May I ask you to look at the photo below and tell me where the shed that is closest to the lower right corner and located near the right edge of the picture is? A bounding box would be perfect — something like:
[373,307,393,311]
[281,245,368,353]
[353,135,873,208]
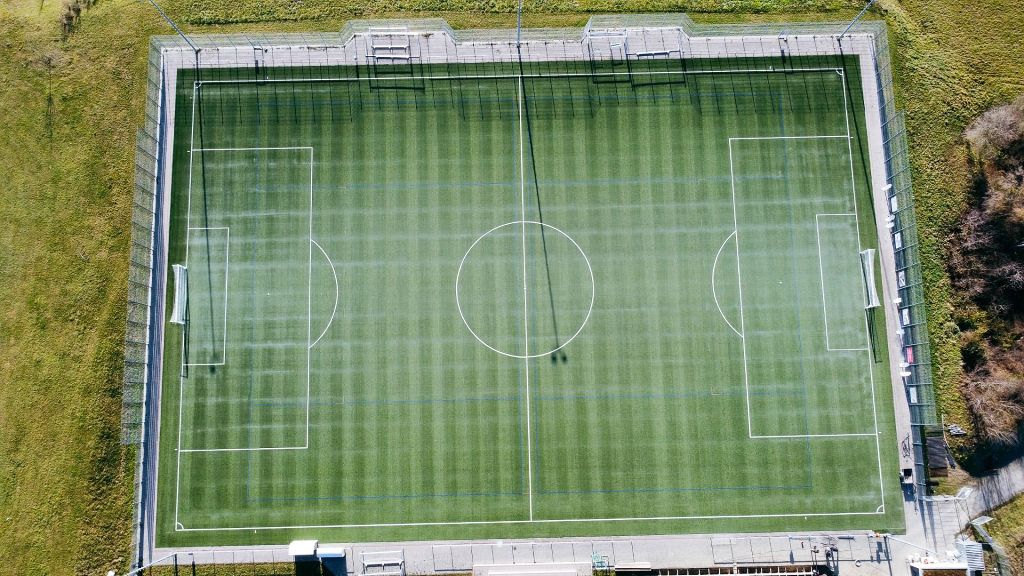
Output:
[956,541,987,573]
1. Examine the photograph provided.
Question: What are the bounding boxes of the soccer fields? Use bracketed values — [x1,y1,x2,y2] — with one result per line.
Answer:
[155,55,905,548]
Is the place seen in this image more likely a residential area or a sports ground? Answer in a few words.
sports ground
